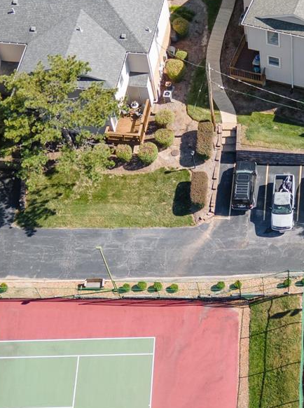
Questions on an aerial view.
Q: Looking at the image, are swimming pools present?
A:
No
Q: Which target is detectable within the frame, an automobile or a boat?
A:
automobile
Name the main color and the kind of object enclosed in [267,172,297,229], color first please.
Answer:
white truck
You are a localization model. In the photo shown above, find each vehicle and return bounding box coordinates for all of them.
[267,172,297,229]
[230,161,258,212]
[279,173,288,191]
